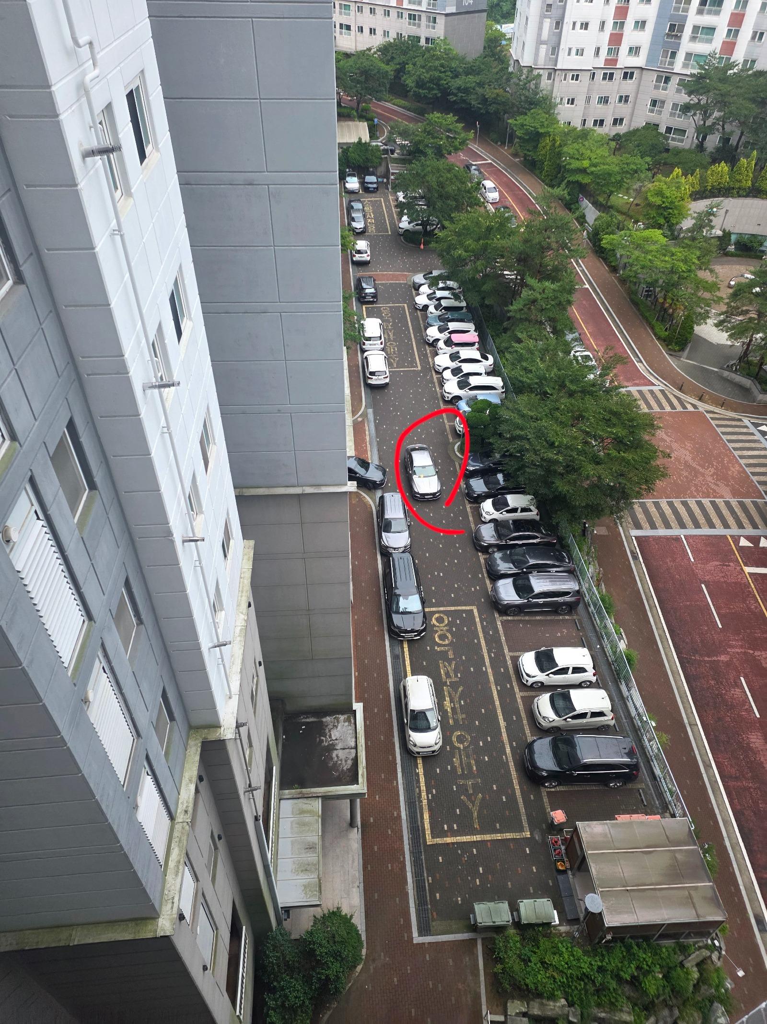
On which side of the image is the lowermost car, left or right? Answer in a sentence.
The lowermost car appears in the right half of the scene.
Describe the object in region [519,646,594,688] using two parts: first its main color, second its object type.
white car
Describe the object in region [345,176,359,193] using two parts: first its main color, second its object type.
white car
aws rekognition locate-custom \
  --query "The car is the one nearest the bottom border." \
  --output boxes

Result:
[526,730,636,787]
